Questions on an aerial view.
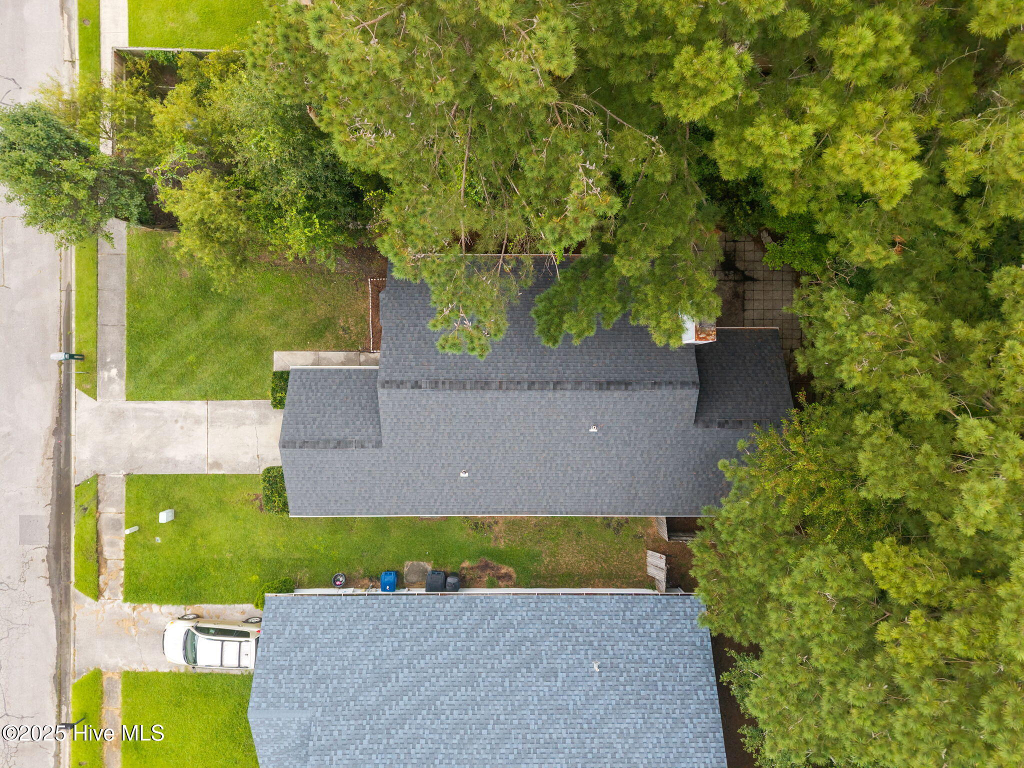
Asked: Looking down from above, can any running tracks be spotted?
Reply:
No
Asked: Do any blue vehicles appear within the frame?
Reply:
No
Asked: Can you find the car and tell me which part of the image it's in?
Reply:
bottom left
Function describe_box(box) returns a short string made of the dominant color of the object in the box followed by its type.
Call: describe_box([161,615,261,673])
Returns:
white car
